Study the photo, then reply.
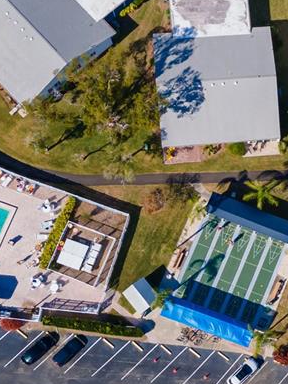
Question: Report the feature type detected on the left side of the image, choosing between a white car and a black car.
black car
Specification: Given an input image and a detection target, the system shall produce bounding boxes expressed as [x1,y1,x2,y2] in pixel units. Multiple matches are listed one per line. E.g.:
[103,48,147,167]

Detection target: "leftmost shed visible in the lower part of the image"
[123,277,155,314]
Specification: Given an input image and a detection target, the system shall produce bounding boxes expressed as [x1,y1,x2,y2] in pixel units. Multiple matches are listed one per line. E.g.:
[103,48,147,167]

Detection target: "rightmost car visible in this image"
[229,358,260,384]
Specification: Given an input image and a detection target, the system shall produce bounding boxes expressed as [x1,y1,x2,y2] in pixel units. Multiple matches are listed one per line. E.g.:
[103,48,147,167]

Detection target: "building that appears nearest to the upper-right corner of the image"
[153,0,280,149]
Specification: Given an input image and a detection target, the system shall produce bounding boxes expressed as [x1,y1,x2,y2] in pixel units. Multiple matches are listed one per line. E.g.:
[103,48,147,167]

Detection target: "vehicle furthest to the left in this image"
[24,332,57,363]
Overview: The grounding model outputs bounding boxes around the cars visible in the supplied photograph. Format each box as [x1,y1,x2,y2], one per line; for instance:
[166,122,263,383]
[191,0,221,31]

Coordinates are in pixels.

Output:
[24,332,57,363]
[229,358,260,384]
[53,335,85,367]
